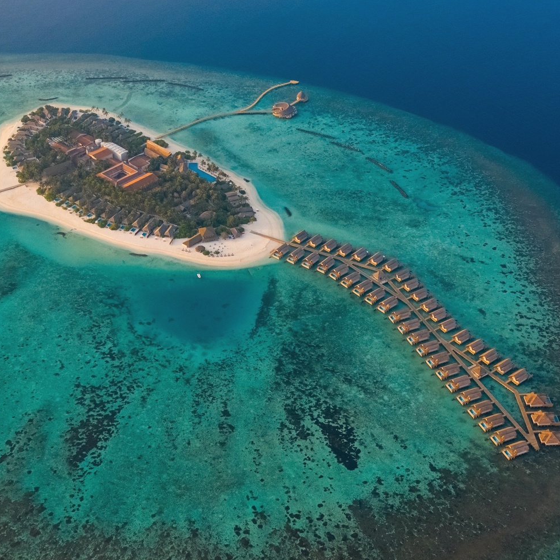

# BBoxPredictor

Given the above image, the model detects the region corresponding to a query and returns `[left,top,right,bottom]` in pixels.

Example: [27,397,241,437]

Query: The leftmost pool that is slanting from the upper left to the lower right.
[187,162,216,184]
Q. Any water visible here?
Yes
